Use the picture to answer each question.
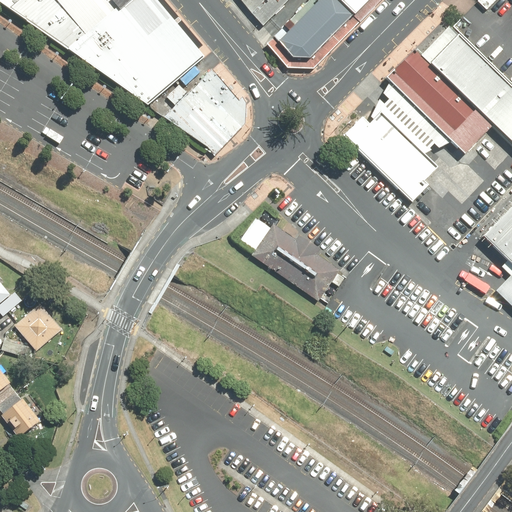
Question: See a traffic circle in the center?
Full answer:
No, no traffic circle can be made out in the center.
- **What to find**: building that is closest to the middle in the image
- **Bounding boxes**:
[241,218,341,305]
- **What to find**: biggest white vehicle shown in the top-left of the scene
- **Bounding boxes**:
[42,128,64,145]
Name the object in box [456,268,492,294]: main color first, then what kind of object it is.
pink truck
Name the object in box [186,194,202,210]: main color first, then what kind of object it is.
white vehicle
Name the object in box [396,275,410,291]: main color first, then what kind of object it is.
gray vehicle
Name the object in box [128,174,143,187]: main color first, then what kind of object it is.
gray vehicle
